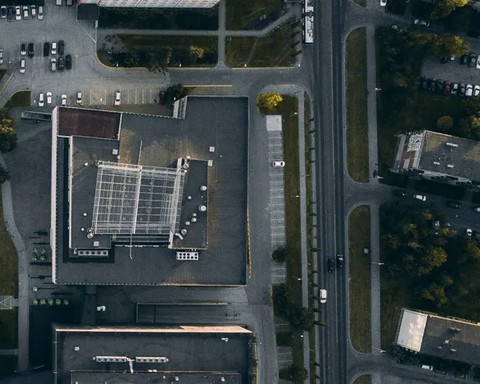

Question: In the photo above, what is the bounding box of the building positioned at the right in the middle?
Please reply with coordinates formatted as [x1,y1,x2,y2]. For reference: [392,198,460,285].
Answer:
[394,130,480,194]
